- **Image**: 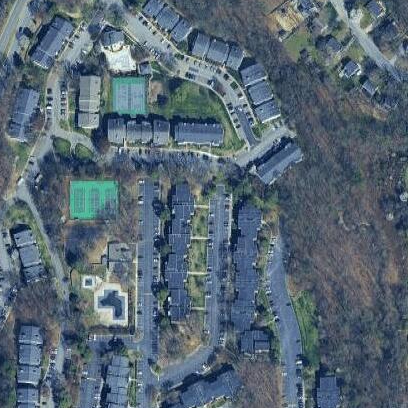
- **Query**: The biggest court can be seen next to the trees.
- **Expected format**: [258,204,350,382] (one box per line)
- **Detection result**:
[69,181,118,220]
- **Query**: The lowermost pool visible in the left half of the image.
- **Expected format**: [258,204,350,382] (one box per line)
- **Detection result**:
[95,283,129,327]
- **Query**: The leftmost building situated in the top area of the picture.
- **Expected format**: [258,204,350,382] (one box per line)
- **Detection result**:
[8,90,39,142]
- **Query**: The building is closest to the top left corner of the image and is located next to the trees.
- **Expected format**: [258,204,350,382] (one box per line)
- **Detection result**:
[31,19,74,71]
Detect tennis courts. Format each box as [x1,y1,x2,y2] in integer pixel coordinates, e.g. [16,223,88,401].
[69,181,118,220]
[112,77,146,115]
